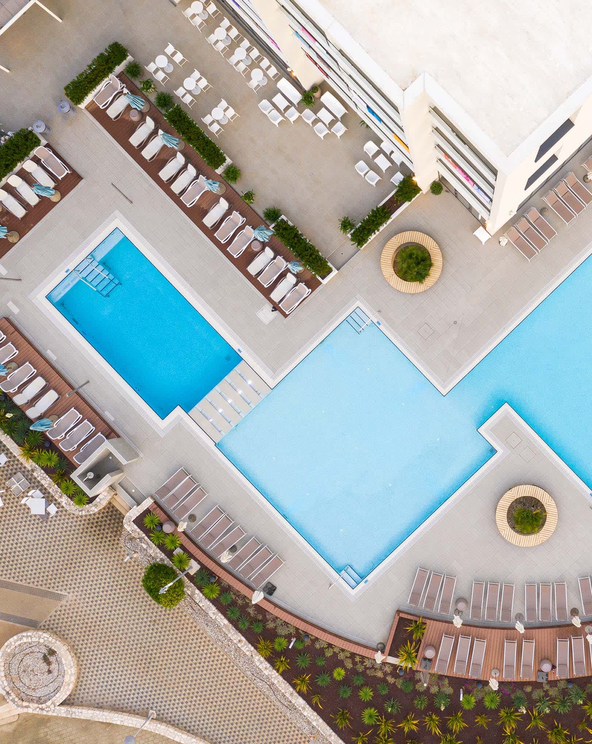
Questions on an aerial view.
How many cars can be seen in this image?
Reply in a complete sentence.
I count no cars.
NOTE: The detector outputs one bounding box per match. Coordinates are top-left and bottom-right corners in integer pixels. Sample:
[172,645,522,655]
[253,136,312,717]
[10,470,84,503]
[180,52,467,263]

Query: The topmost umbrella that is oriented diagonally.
[127,91,152,112]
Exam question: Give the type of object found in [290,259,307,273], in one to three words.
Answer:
umbrella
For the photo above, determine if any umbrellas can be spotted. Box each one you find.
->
[497,237,508,251]
[0,360,18,373]
[570,606,583,625]
[581,168,592,185]
[127,91,152,112]
[29,416,60,430]
[290,259,307,273]
[178,512,198,527]
[220,544,239,560]
[257,226,275,241]
[374,640,386,662]
[513,612,525,632]
[584,624,592,643]
[0,227,19,243]
[259,582,277,602]
[206,177,226,194]
[32,185,61,201]
[490,667,501,690]
[420,658,432,684]
[162,131,186,151]
[453,607,465,626]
